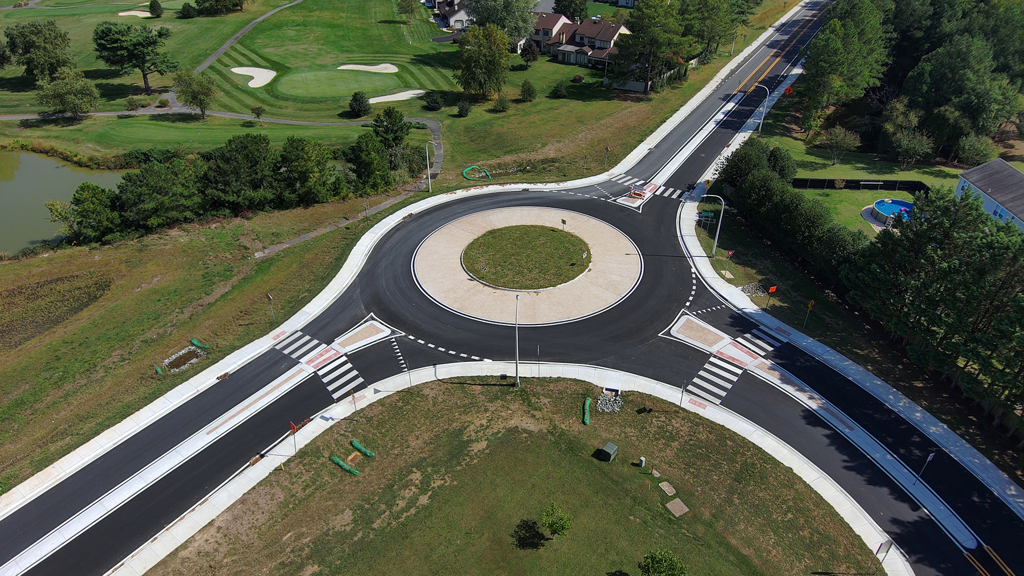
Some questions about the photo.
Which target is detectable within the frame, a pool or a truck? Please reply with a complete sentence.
Looking from above, you can make out a pool.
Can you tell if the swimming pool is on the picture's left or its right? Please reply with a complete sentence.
You can find the swimming pool on the right side of the picture.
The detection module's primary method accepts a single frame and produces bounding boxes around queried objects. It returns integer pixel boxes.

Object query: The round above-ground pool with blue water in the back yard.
[871,197,932,229]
